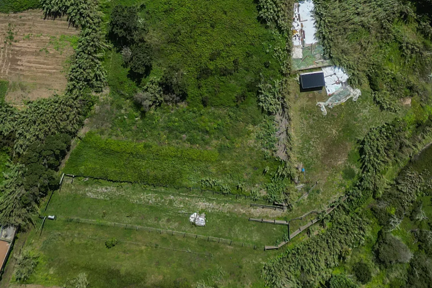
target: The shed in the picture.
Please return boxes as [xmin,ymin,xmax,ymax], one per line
[301,69,325,89]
